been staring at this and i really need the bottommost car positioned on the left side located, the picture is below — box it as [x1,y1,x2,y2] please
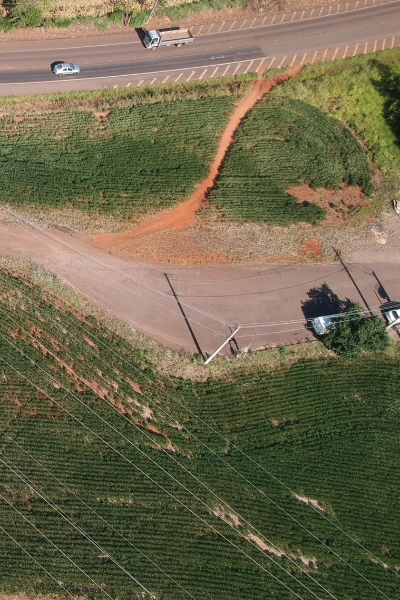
[53,63,82,77]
